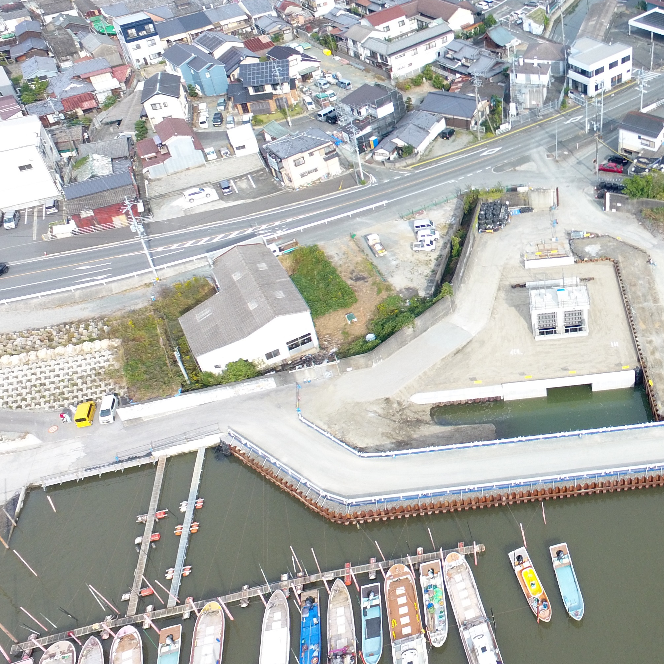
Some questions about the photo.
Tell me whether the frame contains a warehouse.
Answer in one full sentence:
Yes, there is a warehouse in the image.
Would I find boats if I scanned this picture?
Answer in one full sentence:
Yes, a boat appears in the view.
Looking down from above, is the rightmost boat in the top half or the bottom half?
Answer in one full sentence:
The bottom half of the photo is where the rightmost boat is.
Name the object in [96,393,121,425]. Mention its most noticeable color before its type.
white car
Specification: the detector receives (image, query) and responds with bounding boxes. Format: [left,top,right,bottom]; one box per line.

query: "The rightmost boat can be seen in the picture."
[550,542,583,624]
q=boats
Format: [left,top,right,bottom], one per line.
[188,599,230,664]
[299,589,321,664]
[509,548,548,626]
[156,624,183,664]
[37,636,80,664]
[550,542,583,624]
[107,622,149,664]
[422,560,446,651]
[444,549,501,664]
[325,575,361,664]
[361,583,383,664]
[259,588,294,664]
[80,633,107,664]
[383,561,429,664]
